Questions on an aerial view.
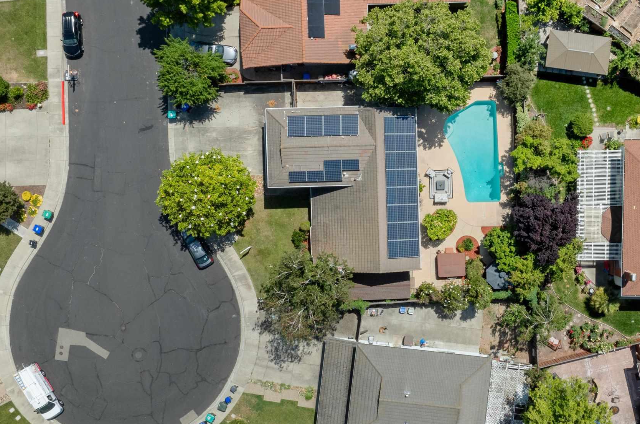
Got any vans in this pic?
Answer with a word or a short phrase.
Yes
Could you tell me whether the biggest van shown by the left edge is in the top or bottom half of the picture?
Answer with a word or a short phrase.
bottom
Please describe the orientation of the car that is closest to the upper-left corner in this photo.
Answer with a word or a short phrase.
up and down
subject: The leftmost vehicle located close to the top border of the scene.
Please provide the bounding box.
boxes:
[61,10,89,61]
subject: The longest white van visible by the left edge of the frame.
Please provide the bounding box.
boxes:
[15,361,68,423]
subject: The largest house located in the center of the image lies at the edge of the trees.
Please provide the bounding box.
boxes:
[265,106,421,301]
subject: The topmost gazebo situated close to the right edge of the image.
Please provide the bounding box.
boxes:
[544,29,612,76]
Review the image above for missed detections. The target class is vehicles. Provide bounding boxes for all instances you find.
[197,41,242,67]
[61,10,89,61]
[177,228,216,273]
[15,361,68,423]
